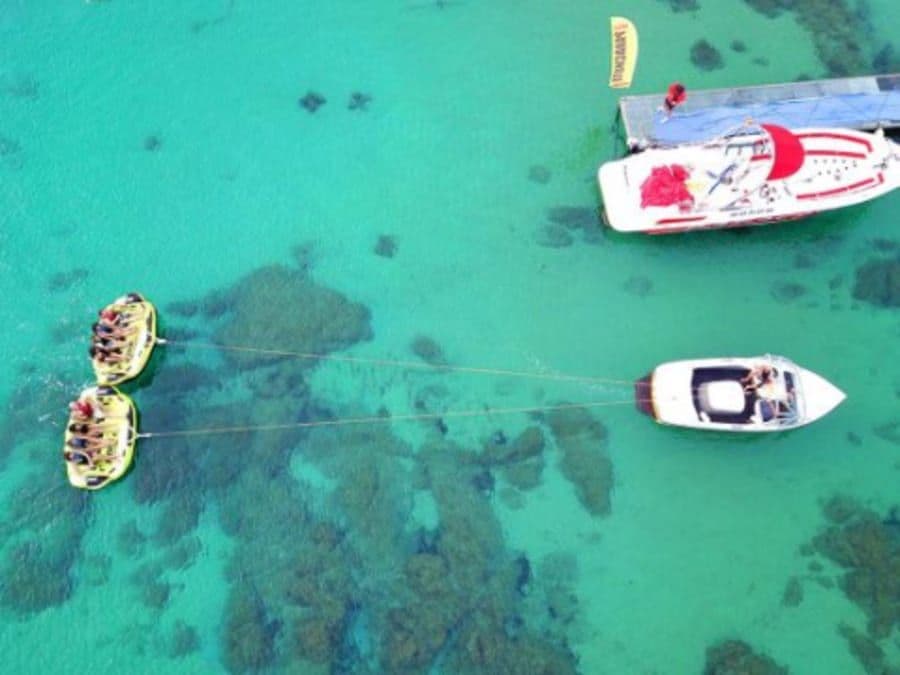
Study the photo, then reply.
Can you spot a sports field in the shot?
No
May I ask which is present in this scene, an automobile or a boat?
boat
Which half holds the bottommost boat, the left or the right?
right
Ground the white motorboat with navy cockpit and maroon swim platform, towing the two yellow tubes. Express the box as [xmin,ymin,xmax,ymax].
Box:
[635,358,849,433]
